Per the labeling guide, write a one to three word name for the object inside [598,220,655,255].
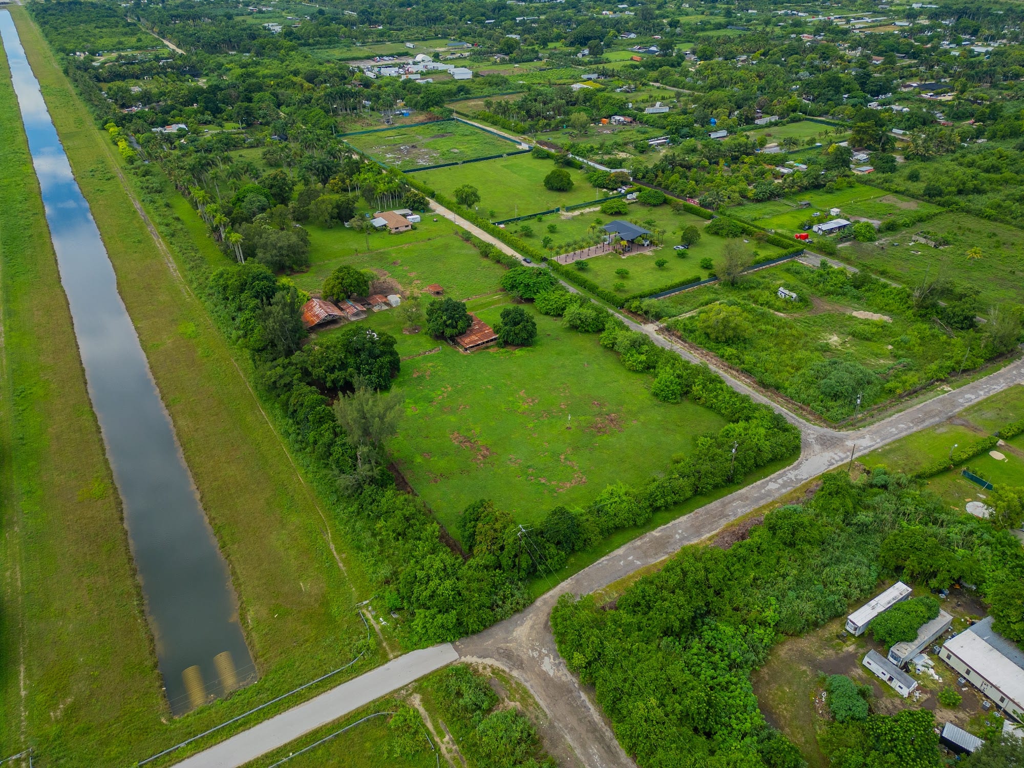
building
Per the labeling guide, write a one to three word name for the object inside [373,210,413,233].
house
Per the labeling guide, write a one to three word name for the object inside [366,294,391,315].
shed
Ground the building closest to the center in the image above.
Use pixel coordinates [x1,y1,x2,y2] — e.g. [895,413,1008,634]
[441,311,500,356]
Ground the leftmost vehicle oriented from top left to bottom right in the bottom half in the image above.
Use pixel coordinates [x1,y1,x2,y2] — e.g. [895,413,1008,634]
[864,646,919,702]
